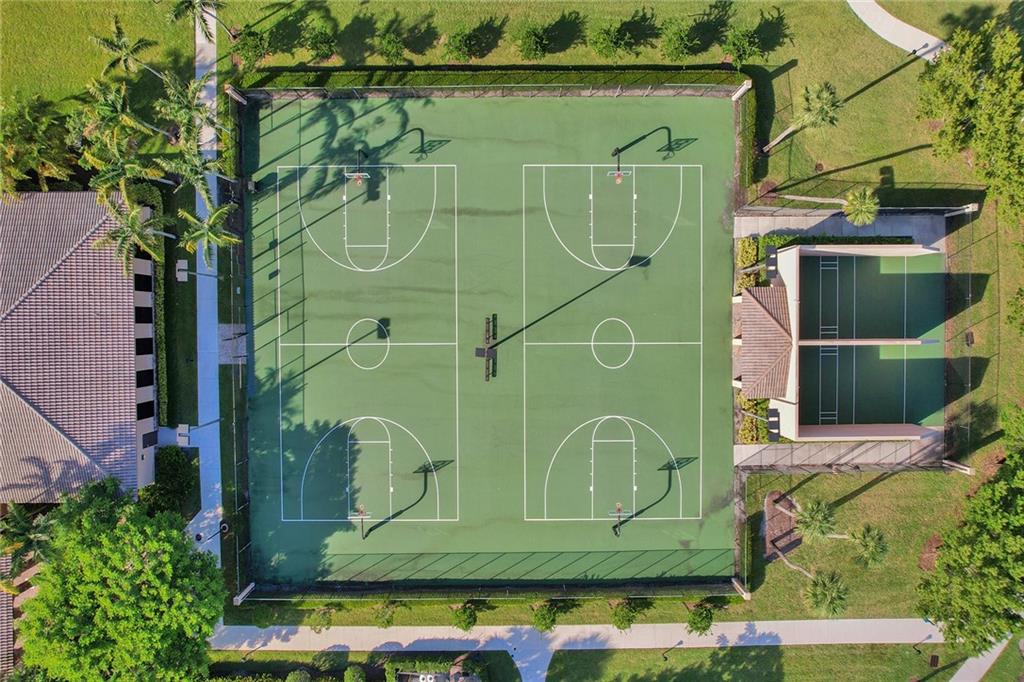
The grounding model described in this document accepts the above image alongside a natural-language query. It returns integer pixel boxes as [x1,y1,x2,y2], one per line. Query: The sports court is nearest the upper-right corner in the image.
[800,254,943,340]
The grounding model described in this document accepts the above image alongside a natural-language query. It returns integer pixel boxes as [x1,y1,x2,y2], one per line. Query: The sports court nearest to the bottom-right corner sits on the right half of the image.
[799,341,943,427]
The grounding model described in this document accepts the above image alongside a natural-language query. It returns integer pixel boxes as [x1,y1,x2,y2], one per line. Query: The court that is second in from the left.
[523,165,702,520]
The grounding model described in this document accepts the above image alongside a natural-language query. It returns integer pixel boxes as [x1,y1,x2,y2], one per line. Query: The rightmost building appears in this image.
[734,286,794,399]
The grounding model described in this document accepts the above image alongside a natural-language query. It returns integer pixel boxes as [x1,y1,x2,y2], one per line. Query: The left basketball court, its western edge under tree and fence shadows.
[277,165,459,521]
